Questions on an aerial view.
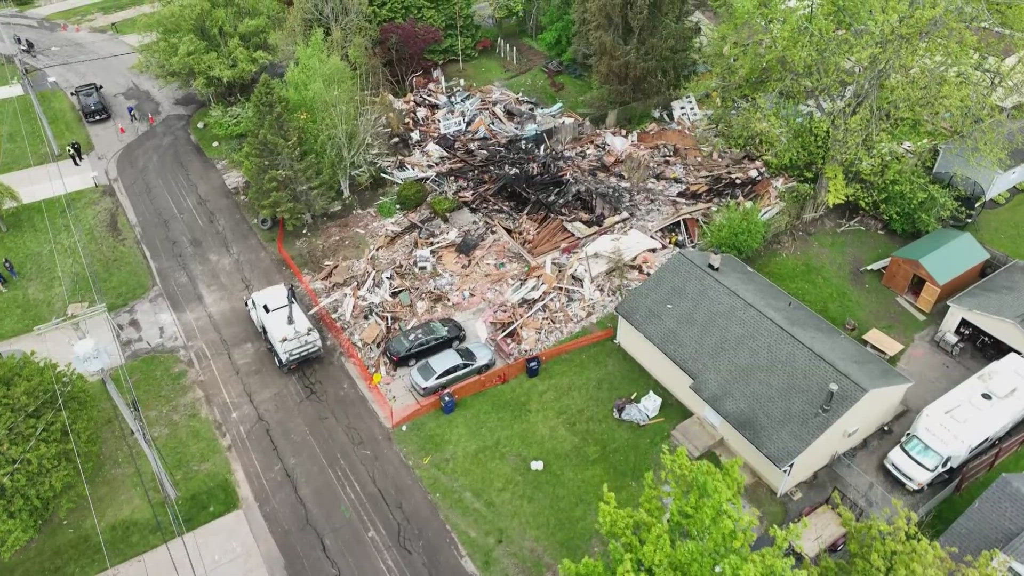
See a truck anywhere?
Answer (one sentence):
Yes, the image includes a truck.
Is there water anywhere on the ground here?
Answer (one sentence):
No, the picture contains no water.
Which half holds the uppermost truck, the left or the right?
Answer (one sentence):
The uppermost truck sits on the left side.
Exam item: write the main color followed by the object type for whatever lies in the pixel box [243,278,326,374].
white truck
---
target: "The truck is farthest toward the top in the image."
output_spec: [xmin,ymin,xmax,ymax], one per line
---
[71,81,111,120]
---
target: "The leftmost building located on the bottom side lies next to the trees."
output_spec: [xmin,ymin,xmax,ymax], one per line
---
[609,248,920,498]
